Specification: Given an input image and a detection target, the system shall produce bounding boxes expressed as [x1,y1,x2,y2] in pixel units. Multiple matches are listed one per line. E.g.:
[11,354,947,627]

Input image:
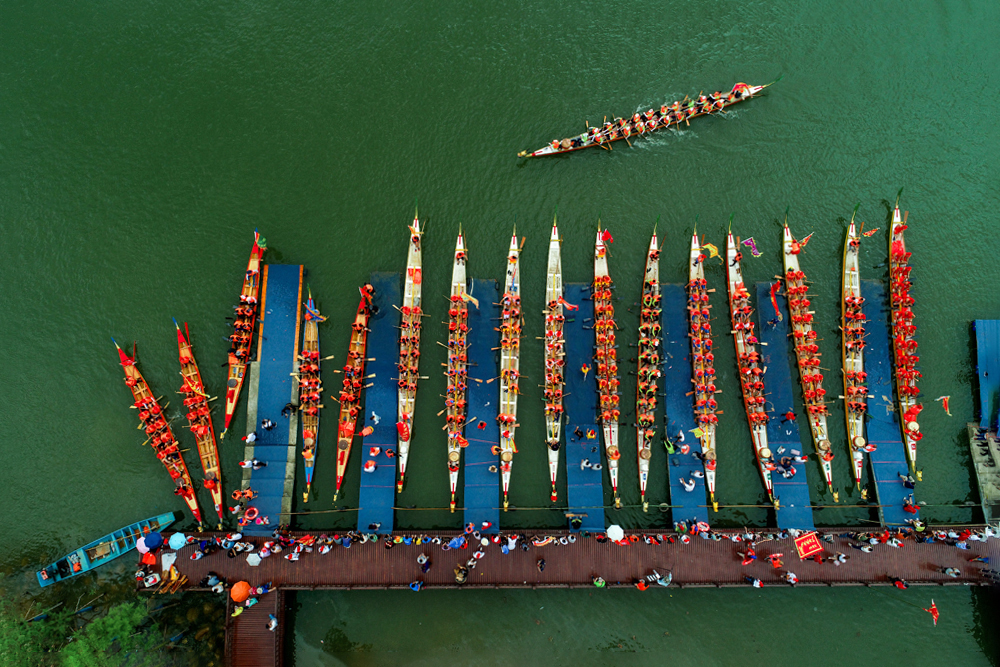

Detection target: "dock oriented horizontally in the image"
[126,532,1000,667]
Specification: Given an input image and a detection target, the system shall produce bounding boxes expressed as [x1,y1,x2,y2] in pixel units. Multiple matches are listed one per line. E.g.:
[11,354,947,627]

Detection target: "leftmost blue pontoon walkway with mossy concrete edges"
[237,265,306,534]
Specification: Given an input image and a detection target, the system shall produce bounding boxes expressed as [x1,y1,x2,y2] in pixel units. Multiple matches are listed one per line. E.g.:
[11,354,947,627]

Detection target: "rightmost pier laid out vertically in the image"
[861,279,917,534]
